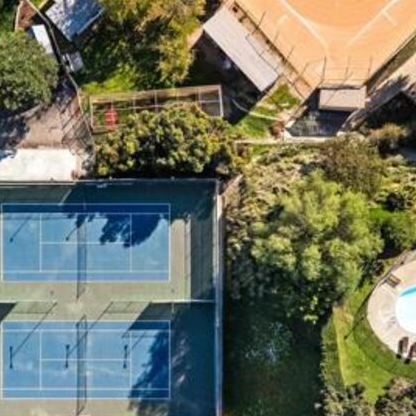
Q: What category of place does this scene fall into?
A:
sports ground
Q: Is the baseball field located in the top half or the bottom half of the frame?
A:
top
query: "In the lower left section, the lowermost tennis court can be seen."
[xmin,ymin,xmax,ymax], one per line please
[0,301,220,416]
